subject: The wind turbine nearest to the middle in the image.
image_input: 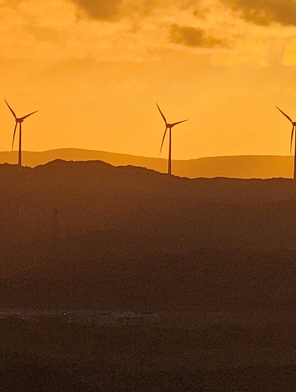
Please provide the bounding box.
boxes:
[155,103,187,175]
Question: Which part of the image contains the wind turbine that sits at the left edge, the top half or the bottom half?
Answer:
top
